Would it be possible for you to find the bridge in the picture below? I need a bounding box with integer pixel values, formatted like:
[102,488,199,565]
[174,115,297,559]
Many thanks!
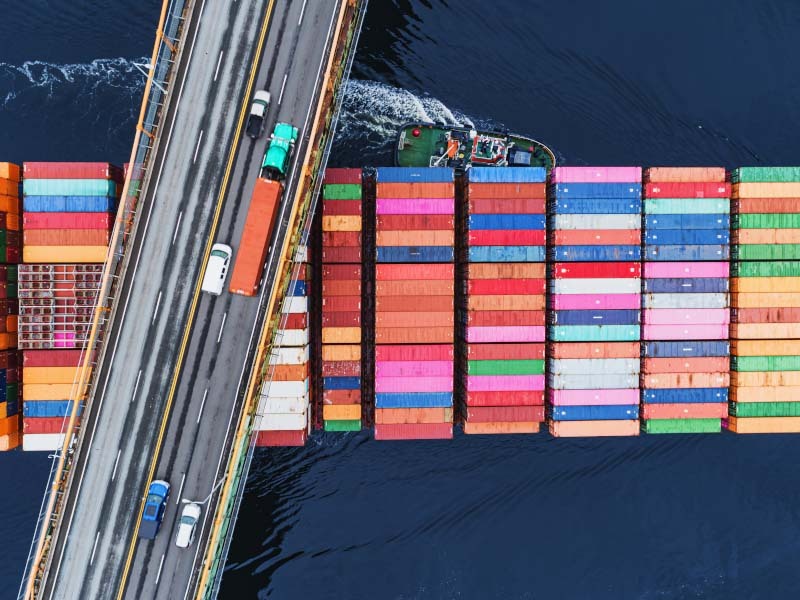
[14,0,377,600]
